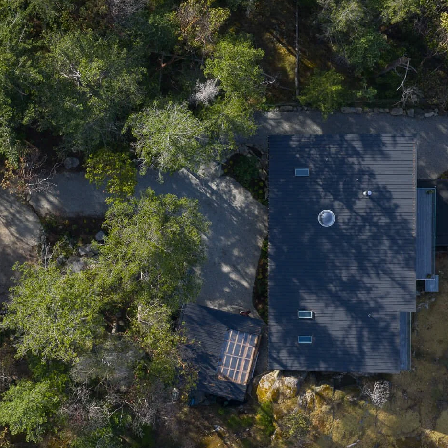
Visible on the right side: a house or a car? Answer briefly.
house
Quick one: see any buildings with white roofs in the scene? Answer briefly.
No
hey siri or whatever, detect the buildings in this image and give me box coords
[266,132,440,374]
[166,304,266,404]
